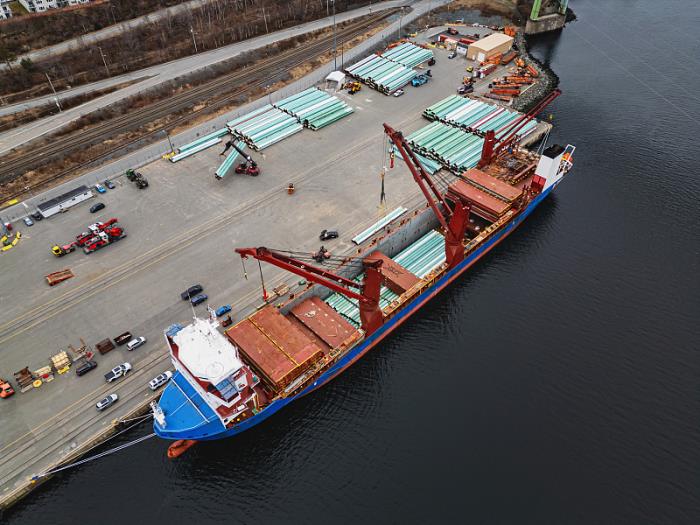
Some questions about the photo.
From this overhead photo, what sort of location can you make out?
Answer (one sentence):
It's a port.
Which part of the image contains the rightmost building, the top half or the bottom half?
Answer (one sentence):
It is in the top half that the rightmost building appears.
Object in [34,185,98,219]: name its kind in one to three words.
building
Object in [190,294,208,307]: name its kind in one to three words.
vehicle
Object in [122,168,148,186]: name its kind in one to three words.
work vehicle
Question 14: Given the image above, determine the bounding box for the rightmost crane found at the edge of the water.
[473,92,558,173]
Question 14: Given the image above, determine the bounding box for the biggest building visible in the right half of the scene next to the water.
[468,33,517,62]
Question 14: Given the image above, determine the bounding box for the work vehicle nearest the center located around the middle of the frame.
[317,228,334,243]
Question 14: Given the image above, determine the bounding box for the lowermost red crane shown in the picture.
[235,247,383,332]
